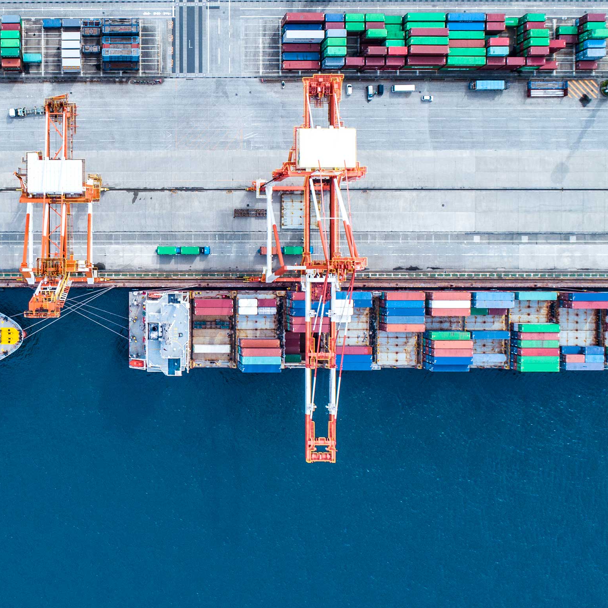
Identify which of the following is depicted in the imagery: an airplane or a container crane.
container crane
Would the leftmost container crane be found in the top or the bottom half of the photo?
top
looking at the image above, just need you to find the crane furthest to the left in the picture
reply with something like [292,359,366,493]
[16,91,108,316]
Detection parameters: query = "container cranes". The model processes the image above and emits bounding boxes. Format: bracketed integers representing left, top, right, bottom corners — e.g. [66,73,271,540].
[244,74,368,464]
[16,91,108,316]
